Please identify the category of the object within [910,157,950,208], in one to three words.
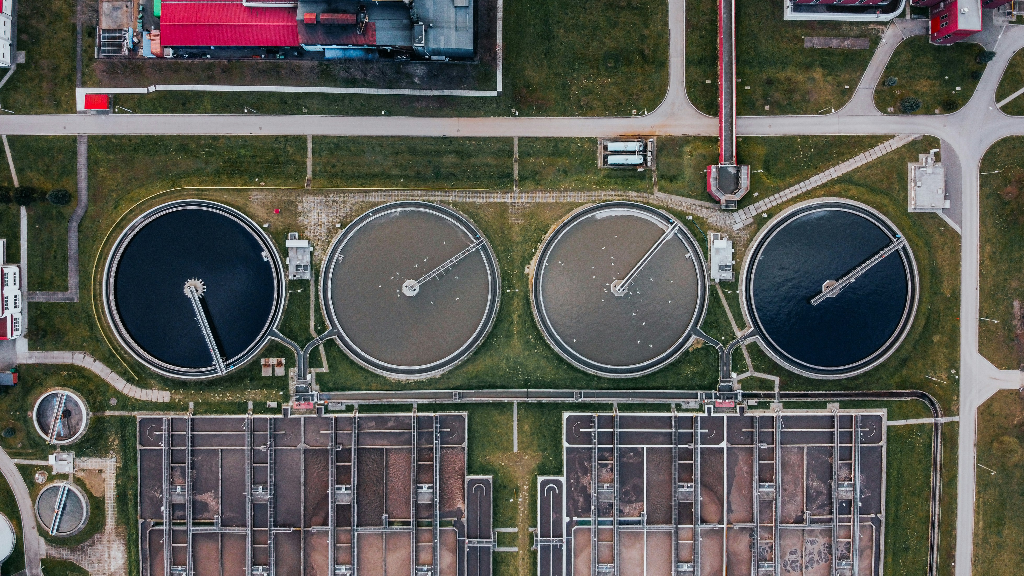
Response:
building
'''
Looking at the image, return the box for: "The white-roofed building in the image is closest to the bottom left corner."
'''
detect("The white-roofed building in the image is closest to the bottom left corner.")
[49,450,79,474]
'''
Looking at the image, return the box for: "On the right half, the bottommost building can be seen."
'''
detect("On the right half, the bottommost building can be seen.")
[708,233,735,282]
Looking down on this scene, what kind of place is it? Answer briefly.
industrial area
